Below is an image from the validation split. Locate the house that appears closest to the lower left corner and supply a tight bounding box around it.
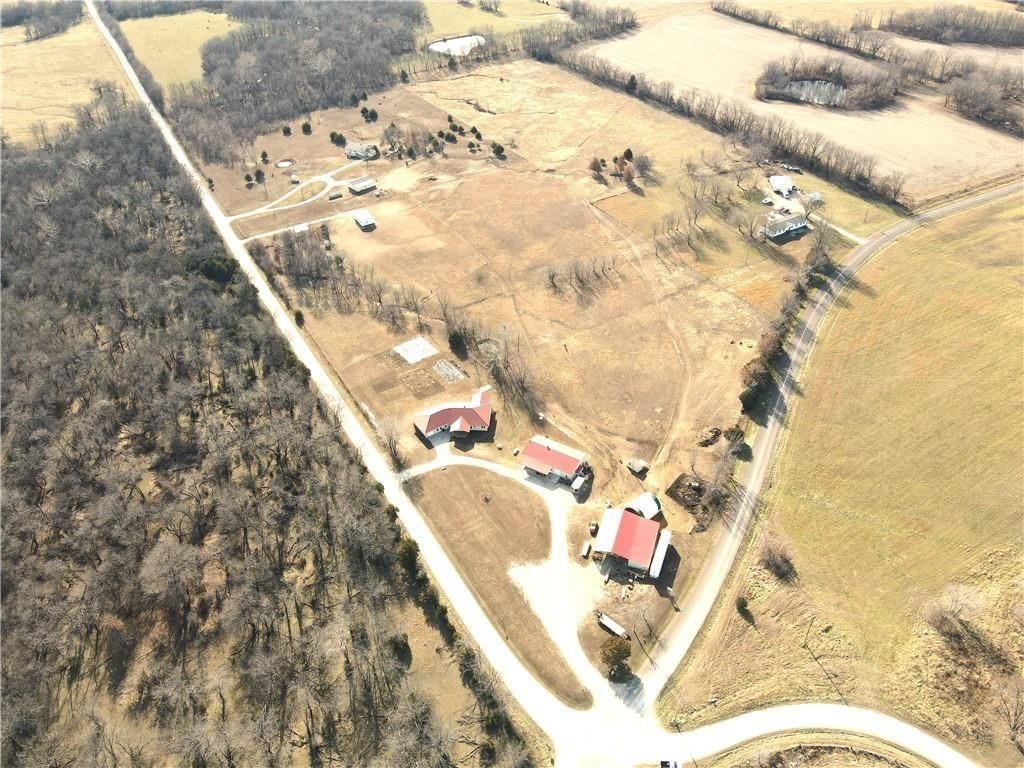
[412,389,491,442]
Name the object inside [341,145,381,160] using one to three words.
house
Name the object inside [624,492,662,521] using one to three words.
shed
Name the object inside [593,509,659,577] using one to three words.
barn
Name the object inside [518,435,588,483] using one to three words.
building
